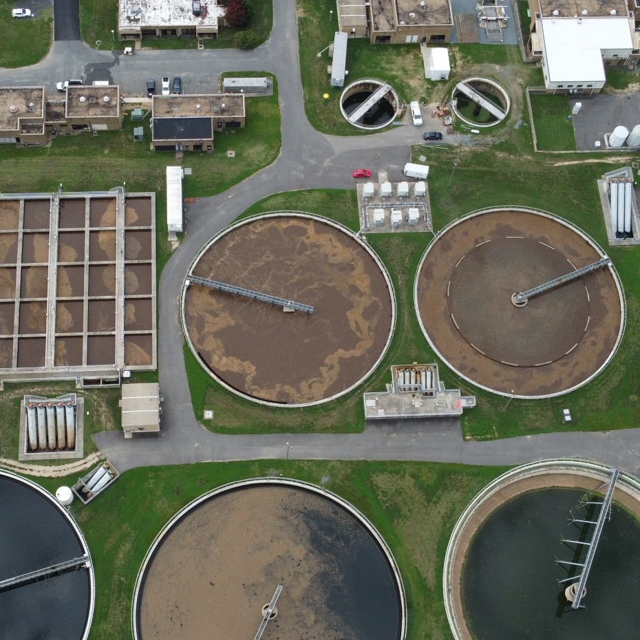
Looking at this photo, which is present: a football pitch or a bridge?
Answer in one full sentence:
The image shows a bridge.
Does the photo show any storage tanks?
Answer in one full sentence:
Yes, I can see a storage tank in this picture.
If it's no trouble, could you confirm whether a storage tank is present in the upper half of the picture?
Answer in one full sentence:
Yes, a storage tank is visible in the upper half of the picture.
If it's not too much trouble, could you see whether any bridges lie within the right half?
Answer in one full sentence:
Yes, a bridge appears within the right half.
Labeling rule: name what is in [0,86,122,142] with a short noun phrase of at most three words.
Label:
building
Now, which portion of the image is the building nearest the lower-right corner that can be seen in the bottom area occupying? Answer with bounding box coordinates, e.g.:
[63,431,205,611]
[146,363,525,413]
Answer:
[363,360,476,420]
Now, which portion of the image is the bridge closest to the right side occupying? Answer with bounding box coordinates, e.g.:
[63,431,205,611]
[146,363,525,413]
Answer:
[570,468,620,609]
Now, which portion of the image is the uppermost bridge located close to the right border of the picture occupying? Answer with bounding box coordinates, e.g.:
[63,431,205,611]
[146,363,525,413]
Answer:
[515,256,614,302]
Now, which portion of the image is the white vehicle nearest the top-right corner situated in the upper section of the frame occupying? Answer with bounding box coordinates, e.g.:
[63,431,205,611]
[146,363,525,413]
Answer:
[409,99,424,127]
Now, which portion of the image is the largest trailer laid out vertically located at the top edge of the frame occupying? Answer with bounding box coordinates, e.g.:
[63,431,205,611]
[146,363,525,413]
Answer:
[322,32,348,90]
